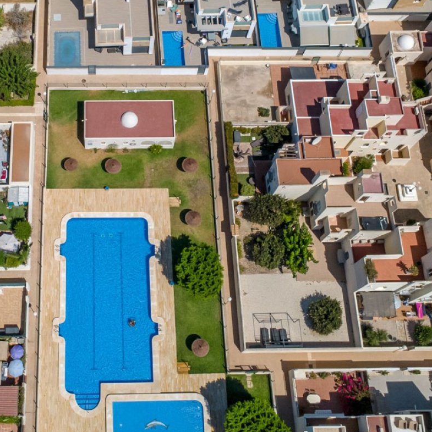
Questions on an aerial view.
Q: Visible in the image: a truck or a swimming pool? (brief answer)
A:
swimming pool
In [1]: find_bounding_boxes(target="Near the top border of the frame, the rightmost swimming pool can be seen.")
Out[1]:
[258,13,281,46]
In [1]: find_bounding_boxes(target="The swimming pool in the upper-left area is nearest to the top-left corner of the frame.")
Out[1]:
[55,31,80,65]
